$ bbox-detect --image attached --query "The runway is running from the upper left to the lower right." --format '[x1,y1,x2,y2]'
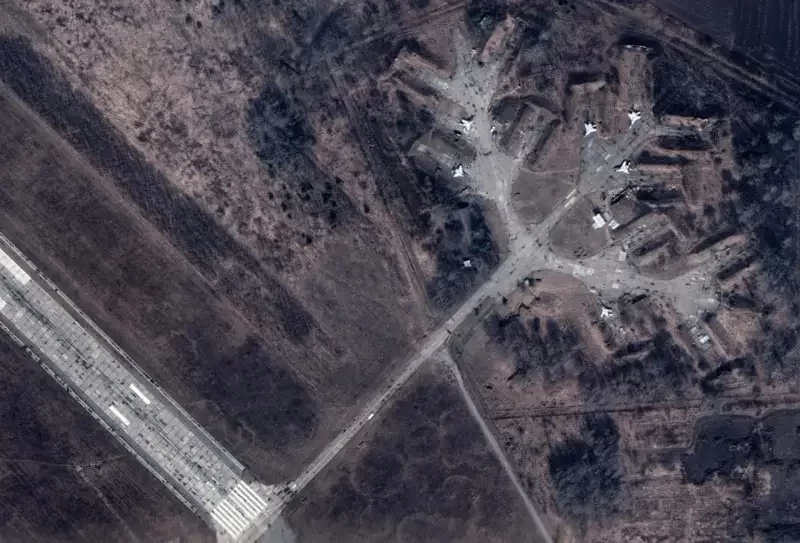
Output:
[0,248,267,538]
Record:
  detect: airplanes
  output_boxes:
[600,307,616,321]
[461,116,472,132]
[585,120,597,136]
[616,161,634,172]
[630,109,641,126]
[452,164,464,180]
